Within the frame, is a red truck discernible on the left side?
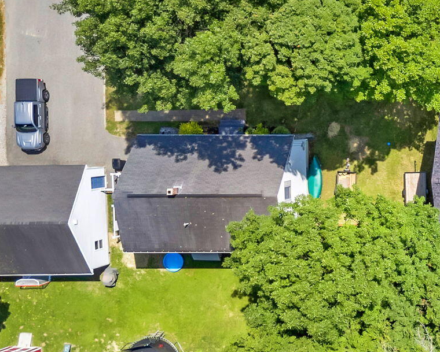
No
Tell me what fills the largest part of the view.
trees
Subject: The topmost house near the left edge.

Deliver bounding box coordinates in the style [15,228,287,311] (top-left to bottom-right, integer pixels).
[0,163,112,277]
